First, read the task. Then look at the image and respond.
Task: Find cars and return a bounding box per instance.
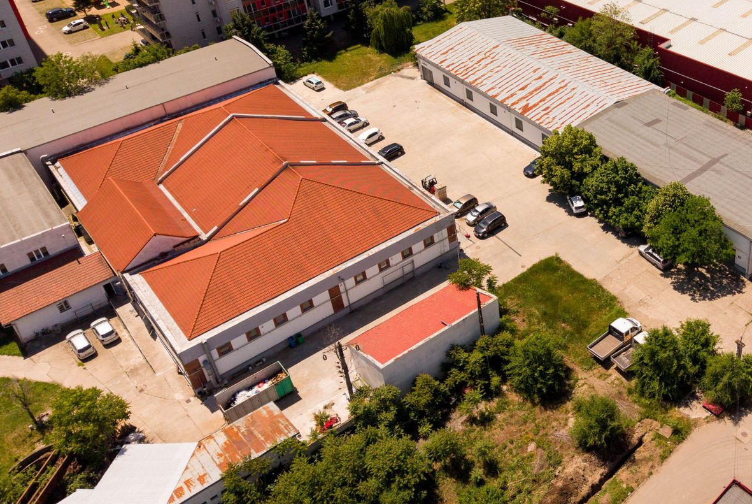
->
[91,318,118,344]
[343,116,370,130]
[522,156,547,177]
[333,106,359,123]
[380,140,408,159]
[637,246,676,270]
[464,202,498,226]
[473,210,507,239]
[47,7,74,19]
[303,75,325,90]
[451,192,481,216]
[63,18,88,32]
[606,217,639,241]
[64,331,93,358]
[359,125,386,143]
[322,96,351,116]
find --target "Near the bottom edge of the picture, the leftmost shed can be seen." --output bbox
[84,434,201,504]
